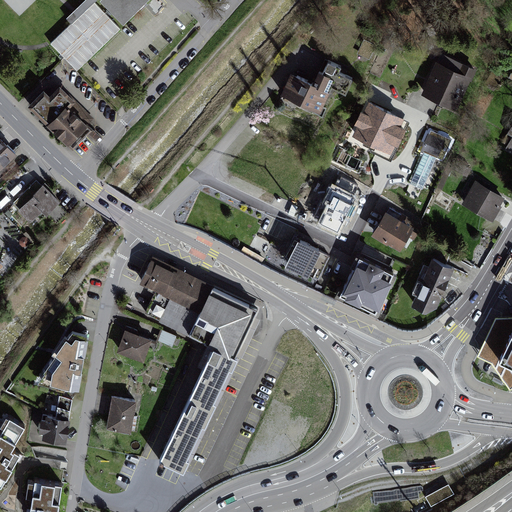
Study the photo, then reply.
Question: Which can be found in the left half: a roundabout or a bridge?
bridge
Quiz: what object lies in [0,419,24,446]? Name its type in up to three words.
building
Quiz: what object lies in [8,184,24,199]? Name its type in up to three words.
vehicle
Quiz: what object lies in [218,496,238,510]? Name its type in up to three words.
vehicle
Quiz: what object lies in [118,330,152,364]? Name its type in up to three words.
house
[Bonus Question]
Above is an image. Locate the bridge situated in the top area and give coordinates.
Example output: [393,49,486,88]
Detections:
[84,176,138,228]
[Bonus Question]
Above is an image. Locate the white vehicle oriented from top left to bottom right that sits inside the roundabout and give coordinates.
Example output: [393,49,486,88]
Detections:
[418,366,440,388]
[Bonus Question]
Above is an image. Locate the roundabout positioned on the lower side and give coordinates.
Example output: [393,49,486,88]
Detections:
[358,346,454,441]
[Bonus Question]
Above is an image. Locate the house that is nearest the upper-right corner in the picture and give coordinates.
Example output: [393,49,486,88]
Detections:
[422,56,475,112]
